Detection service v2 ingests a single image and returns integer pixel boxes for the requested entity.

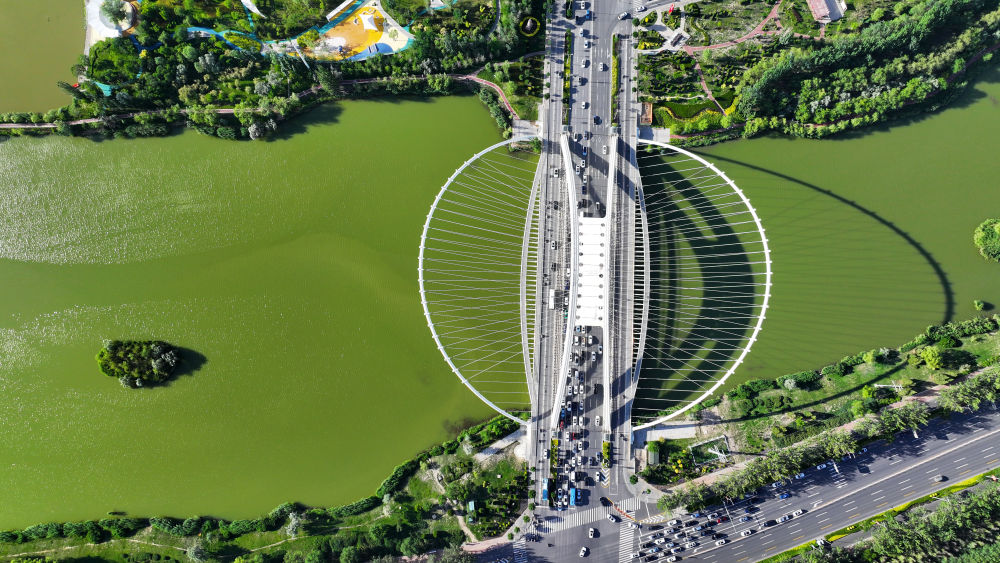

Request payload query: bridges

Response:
[416,124,772,444]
